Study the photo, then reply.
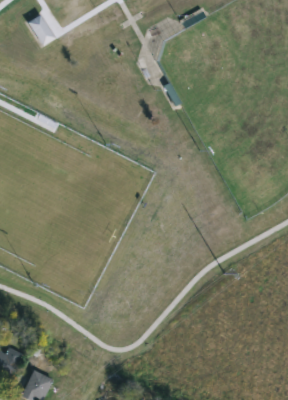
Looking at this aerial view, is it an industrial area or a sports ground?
sports ground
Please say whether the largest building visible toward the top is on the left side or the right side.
left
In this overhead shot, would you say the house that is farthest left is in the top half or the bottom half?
bottom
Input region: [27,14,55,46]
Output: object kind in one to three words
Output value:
building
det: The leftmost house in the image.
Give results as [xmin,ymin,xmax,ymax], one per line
[0,347,22,374]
